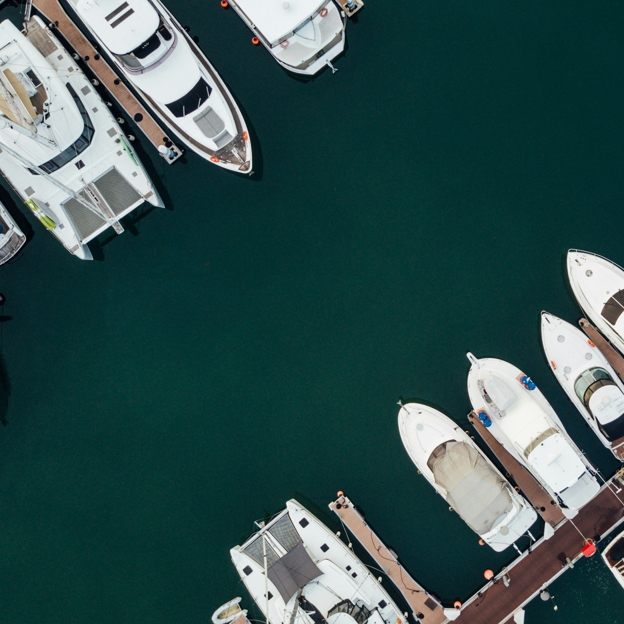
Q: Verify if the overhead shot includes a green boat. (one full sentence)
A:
Yes, there is a green boat in the image.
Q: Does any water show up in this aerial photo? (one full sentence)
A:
Yes, water can be seen from above here.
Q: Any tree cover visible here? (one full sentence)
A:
No, the picture contains no tree cover.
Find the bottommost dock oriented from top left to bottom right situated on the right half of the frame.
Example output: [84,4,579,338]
[332,495,460,624]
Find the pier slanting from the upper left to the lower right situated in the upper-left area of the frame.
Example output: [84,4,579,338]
[29,0,184,165]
